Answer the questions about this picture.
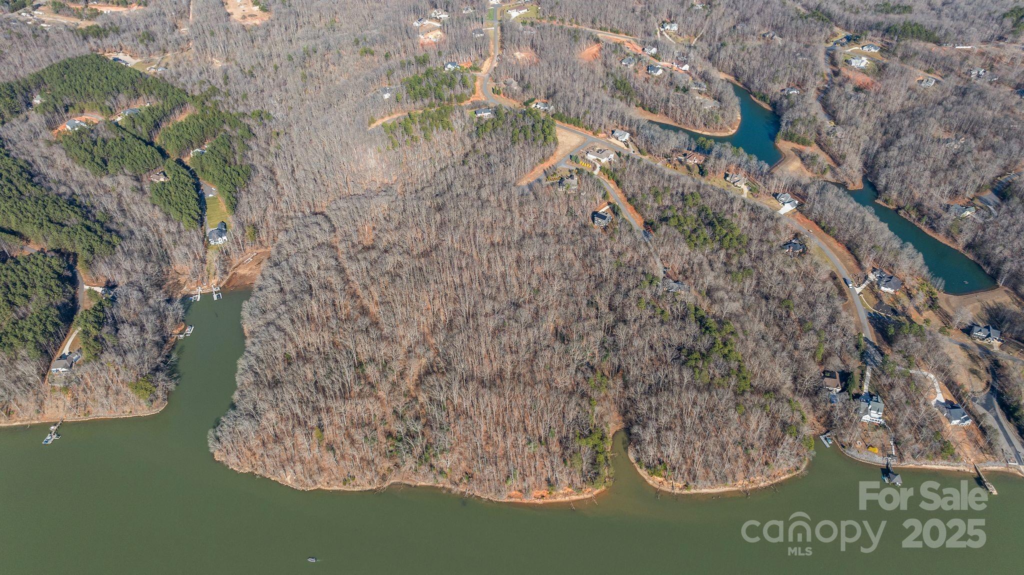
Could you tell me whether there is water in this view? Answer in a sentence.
Yes, some water is visible.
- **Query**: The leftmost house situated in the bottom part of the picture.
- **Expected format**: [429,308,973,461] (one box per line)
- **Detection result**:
[51,354,86,381]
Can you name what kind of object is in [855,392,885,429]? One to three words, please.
house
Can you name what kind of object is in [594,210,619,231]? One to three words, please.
house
